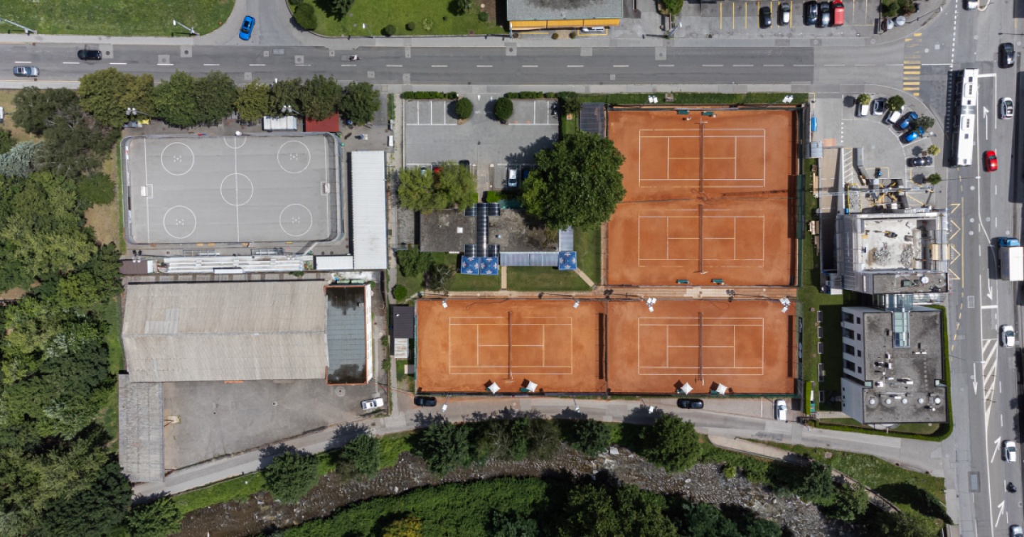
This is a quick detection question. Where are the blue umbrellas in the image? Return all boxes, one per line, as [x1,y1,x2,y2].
[480,257,498,274]
[461,257,478,274]
[559,252,576,269]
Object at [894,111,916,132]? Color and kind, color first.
blue car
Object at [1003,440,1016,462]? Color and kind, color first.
white vehicle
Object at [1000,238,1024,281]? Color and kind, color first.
white truck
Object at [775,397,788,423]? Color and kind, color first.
white vehicle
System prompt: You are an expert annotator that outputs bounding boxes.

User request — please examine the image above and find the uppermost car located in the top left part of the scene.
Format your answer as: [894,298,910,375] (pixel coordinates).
[239,16,253,40]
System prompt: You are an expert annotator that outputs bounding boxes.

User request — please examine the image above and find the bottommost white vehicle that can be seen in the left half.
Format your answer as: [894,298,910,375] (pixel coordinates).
[359,398,385,410]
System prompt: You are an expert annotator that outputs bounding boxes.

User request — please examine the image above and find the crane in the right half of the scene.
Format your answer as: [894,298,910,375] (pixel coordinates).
[816,182,934,207]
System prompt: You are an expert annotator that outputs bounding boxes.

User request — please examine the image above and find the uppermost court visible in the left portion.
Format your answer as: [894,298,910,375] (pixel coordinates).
[119,133,343,245]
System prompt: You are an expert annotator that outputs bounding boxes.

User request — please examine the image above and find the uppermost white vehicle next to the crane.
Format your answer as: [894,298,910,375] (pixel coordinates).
[948,69,978,168]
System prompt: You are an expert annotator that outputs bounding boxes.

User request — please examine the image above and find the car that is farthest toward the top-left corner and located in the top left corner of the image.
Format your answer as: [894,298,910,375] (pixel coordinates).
[12,65,40,77]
